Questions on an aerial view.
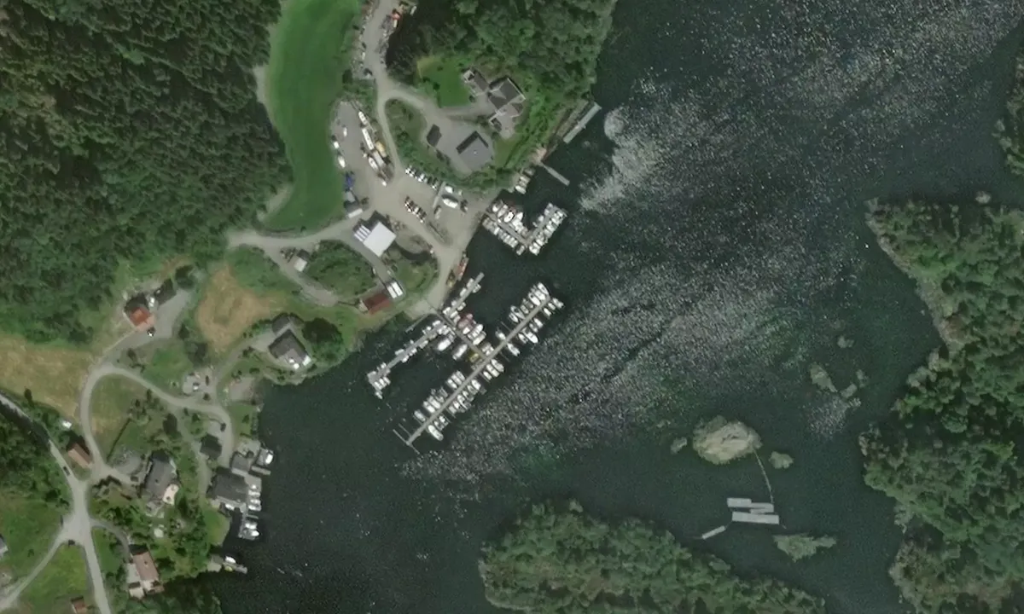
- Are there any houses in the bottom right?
No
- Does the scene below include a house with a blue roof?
No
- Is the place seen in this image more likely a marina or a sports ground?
marina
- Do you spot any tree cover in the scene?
Yes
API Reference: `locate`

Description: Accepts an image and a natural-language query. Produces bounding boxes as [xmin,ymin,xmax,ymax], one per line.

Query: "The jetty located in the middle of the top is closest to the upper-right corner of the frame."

[564,103,601,142]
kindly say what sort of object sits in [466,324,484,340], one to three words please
boat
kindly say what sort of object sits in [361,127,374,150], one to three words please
vehicle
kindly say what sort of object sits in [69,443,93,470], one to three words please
barn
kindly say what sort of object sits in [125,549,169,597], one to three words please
house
